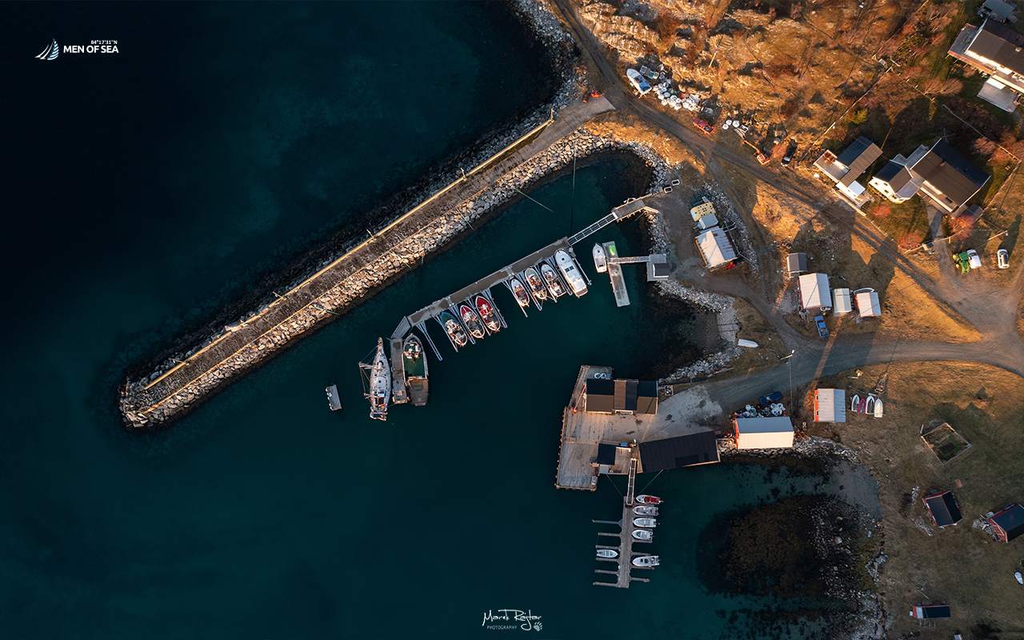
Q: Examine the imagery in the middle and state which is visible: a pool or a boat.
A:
boat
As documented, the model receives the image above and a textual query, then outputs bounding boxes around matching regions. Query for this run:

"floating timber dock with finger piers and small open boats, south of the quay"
[591,496,655,590]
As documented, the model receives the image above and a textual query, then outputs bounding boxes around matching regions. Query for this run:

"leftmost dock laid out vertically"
[389,339,409,404]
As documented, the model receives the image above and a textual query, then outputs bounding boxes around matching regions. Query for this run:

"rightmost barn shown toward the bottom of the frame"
[980,500,1024,545]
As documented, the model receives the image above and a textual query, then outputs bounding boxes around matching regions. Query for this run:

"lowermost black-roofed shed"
[906,604,950,620]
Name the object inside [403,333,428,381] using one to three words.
vessel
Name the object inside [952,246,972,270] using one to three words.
work vehicle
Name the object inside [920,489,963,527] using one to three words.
house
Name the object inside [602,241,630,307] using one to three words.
pier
